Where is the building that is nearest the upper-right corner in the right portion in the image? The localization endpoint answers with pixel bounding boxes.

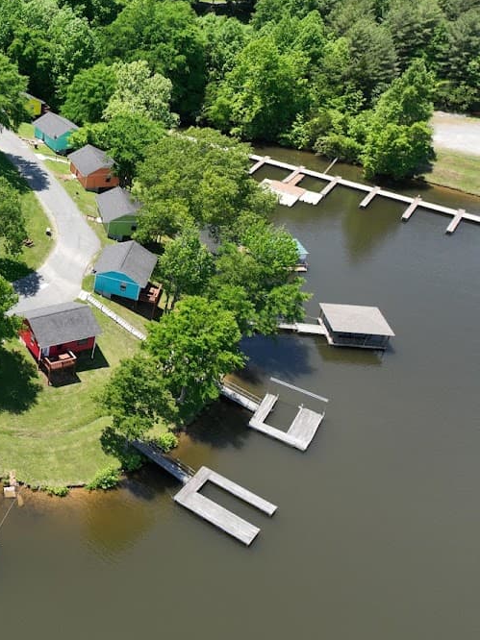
[283,239,309,276]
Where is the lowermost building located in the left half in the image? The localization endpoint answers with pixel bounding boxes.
[16,299,103,380]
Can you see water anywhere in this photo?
Yes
